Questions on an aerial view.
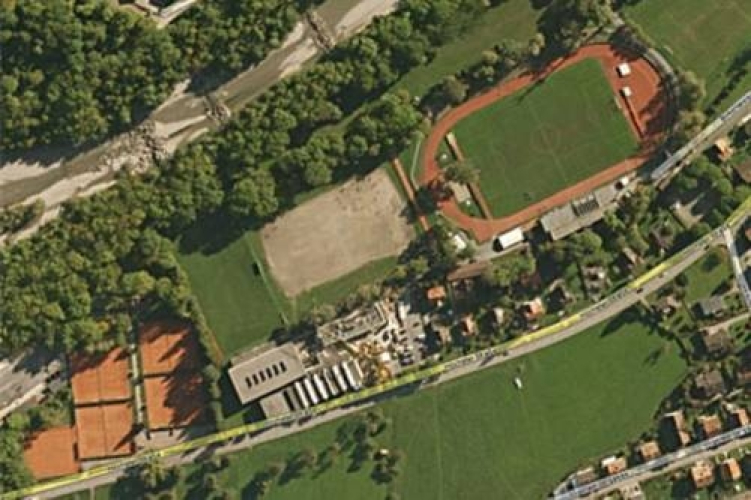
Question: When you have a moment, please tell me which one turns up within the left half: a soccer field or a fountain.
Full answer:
What appears within the left half is a soccer field.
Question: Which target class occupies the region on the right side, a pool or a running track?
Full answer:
Looking on the right side, you will find a running track.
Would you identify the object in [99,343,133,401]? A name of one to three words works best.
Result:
tennis court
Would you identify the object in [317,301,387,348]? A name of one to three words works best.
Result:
building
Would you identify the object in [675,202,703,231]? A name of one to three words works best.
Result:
house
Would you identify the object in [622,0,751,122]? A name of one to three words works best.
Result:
soccer field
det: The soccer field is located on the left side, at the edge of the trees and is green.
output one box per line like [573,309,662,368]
[171,224,291,362]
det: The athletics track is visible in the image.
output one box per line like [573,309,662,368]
[417,44,664,243]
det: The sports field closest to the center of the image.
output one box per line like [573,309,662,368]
[260,166,415,298]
